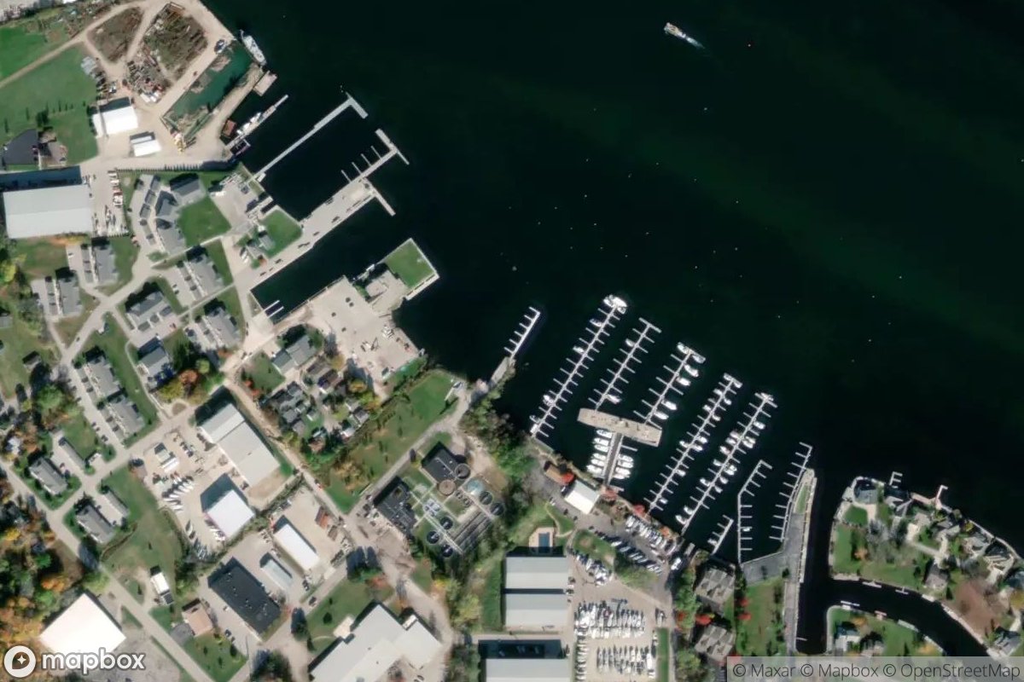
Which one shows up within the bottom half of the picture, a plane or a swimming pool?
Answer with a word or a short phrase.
swimming pool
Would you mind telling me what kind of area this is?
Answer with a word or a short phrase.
port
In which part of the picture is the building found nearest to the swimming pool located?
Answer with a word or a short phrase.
bottom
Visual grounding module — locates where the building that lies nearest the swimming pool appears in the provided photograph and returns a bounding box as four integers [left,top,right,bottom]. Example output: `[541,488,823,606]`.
[503,557,568,590]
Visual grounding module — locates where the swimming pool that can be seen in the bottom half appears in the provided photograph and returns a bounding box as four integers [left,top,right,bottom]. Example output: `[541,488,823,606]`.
[529,528,555,558]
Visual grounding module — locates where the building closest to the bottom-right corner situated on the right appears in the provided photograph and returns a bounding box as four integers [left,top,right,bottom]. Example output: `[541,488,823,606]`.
[993,632,1023,659]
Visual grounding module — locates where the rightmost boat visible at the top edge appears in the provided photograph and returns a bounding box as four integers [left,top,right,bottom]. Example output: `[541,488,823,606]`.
[665,24,685,39]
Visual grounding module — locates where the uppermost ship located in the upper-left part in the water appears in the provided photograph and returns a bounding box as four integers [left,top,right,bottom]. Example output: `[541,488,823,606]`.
[240,26,267,63]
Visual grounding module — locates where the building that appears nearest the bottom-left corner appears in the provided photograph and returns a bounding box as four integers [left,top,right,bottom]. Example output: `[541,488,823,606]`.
[38,594,126,676]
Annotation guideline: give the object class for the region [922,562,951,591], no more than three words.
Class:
house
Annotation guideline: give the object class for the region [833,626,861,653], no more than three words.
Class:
house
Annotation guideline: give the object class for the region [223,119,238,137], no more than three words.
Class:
ship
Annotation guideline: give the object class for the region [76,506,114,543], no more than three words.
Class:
building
